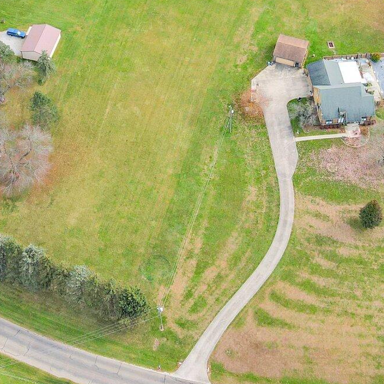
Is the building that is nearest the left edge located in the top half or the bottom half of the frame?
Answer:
top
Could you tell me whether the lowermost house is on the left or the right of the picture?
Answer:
right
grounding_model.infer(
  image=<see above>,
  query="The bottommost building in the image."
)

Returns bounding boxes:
[307,57,376,131]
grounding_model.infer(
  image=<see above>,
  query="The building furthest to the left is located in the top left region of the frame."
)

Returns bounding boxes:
[21,22,61,62]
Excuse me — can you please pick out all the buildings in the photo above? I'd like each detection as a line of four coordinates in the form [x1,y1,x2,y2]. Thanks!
[21,22,61,62]
[307,57,376,131]
[273,34,308,69]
